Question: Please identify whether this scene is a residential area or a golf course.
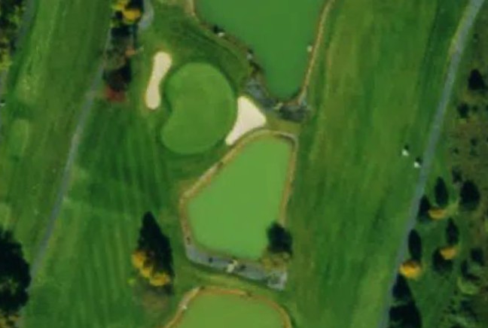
golf course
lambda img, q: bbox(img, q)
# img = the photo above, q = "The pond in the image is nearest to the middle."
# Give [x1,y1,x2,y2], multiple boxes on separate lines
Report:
[182,132,299,265]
